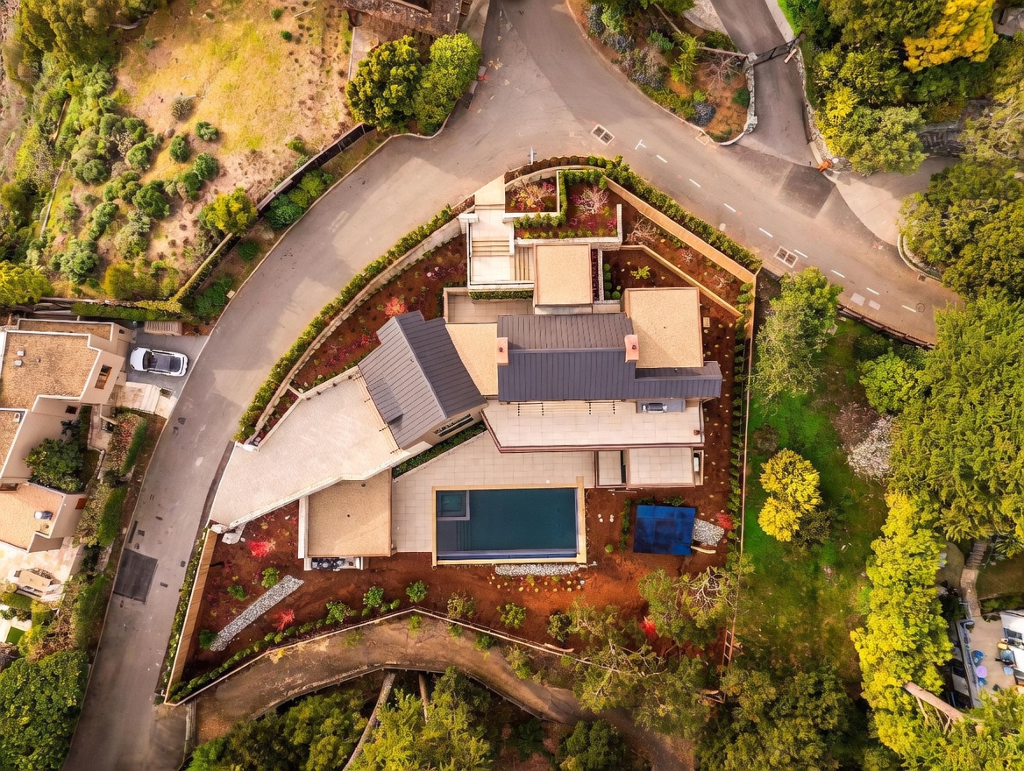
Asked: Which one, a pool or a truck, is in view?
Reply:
pool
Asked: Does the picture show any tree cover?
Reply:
Yes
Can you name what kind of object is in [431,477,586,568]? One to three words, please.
swimming pool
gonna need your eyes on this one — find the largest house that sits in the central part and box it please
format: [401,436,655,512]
[348,243,723,487]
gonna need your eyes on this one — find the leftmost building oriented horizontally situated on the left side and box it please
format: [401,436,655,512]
[144,321,187,336]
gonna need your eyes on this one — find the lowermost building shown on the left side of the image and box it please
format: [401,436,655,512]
[298,468,396,558]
